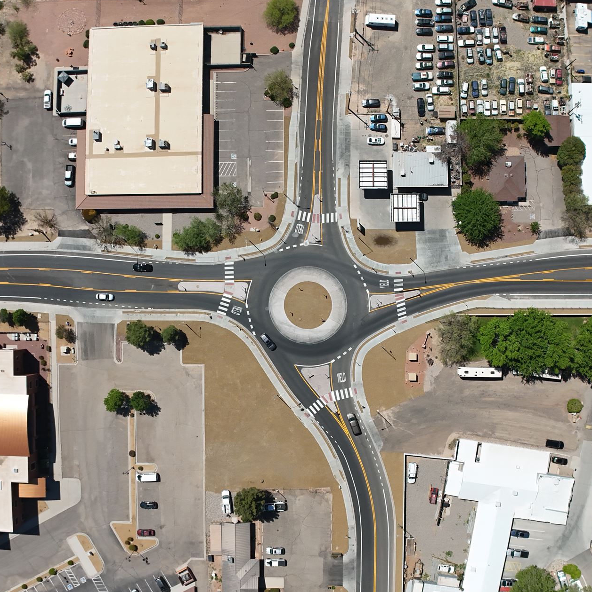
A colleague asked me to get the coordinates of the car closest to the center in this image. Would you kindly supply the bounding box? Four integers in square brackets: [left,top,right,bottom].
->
[262,334,275,349]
